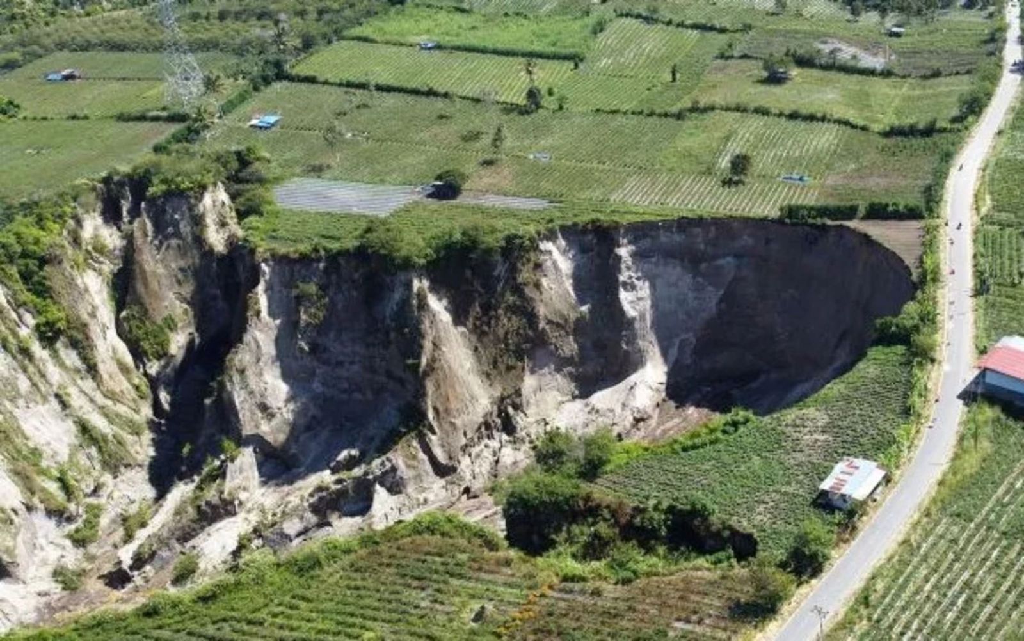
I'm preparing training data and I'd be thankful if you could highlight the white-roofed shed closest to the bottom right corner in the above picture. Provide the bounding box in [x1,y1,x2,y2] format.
[819,459,884,517]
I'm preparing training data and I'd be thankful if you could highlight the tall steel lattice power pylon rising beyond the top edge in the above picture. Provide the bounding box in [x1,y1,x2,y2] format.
[161,0,210,108]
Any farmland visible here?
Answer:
Yes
